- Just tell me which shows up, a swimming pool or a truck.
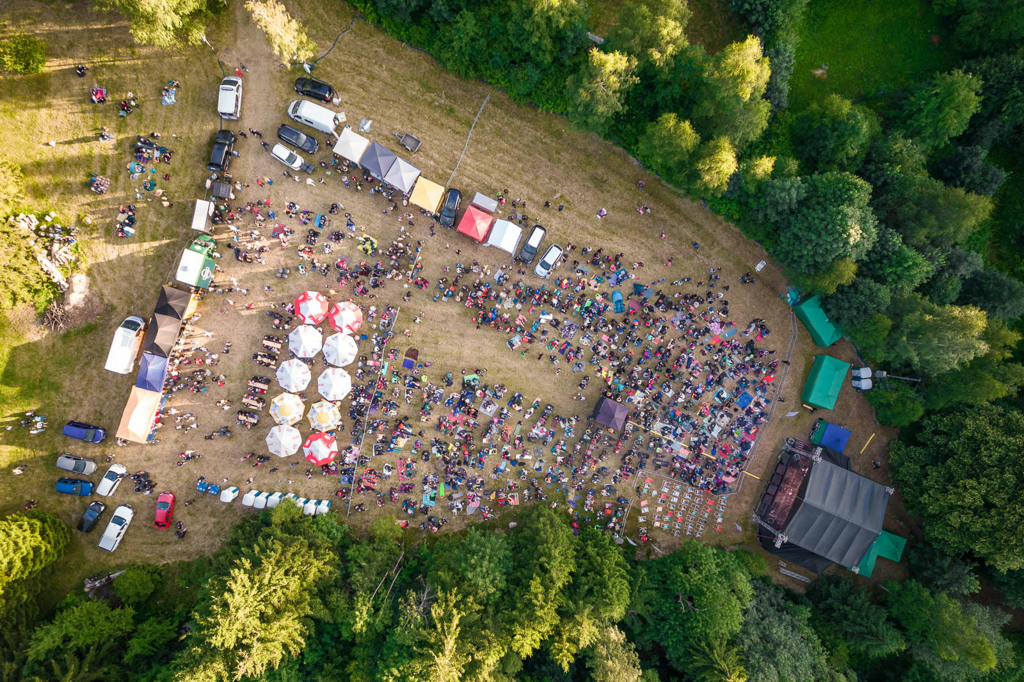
truck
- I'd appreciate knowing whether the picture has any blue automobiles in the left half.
Yes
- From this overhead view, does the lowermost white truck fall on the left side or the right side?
left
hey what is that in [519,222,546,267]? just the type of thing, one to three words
car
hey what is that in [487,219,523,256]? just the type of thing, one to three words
tent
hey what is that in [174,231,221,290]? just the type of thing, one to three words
truck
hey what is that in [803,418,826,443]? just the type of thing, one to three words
gazebo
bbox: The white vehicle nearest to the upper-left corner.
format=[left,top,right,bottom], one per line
[219,78,246,124]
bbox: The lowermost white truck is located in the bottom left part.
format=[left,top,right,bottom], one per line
[100,501,139,552]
